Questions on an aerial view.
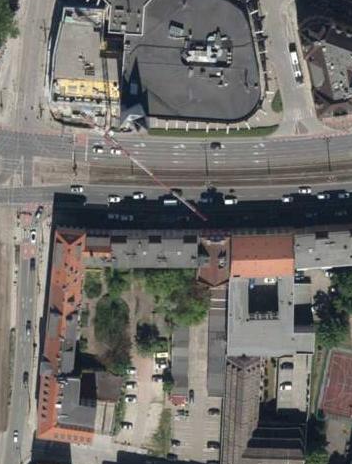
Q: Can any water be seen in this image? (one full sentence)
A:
No, no water is visible.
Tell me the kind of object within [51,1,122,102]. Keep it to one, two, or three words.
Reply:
building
